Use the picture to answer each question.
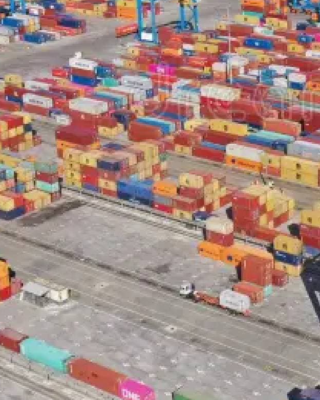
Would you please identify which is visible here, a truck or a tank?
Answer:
truck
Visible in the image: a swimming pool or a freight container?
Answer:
freight container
